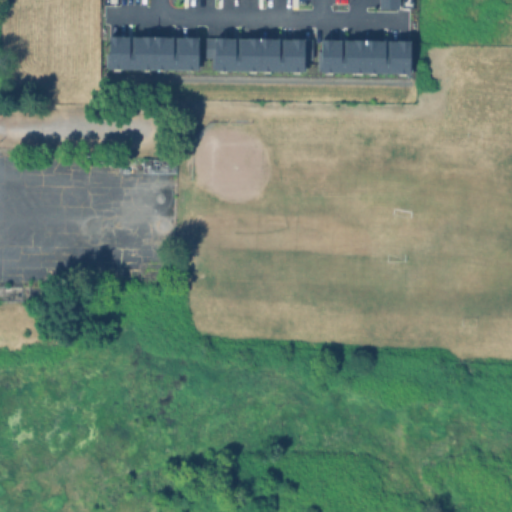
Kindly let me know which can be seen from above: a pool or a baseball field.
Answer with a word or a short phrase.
baseball field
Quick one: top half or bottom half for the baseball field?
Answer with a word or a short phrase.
top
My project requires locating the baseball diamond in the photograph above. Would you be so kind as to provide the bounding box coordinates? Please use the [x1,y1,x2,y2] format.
[194,128,271,204]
